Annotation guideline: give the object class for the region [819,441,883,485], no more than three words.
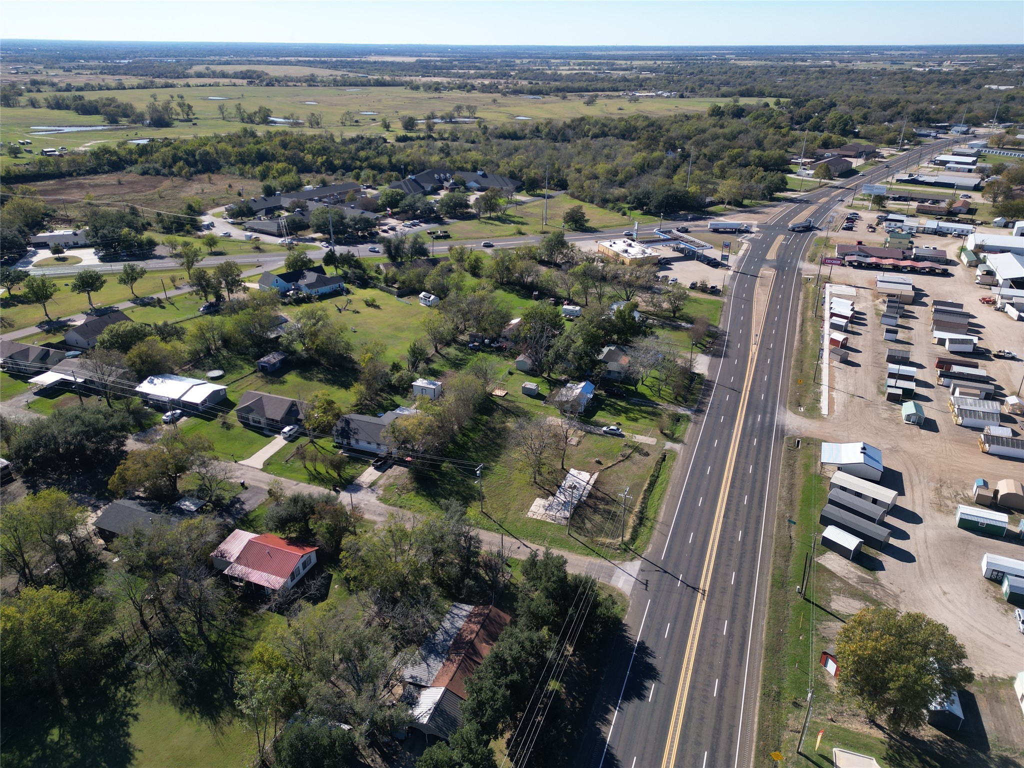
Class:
barn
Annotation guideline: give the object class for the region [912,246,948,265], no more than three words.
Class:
building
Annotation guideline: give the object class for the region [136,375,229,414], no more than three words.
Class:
house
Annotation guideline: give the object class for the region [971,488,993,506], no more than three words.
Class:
shed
